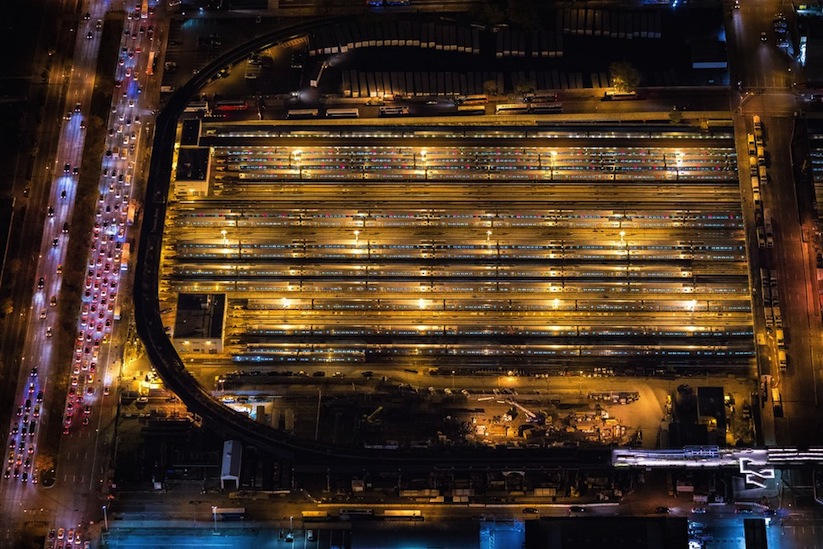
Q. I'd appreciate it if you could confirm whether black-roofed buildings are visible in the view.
Yes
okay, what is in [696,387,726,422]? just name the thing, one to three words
building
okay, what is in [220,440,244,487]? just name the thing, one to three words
shed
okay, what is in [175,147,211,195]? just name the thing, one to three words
building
